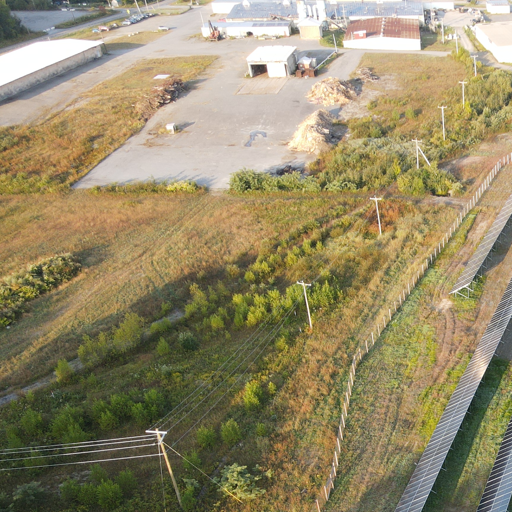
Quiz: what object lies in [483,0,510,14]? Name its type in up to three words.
shed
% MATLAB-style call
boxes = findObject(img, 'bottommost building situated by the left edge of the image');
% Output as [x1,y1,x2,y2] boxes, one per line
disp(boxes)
[0,38,102,103]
